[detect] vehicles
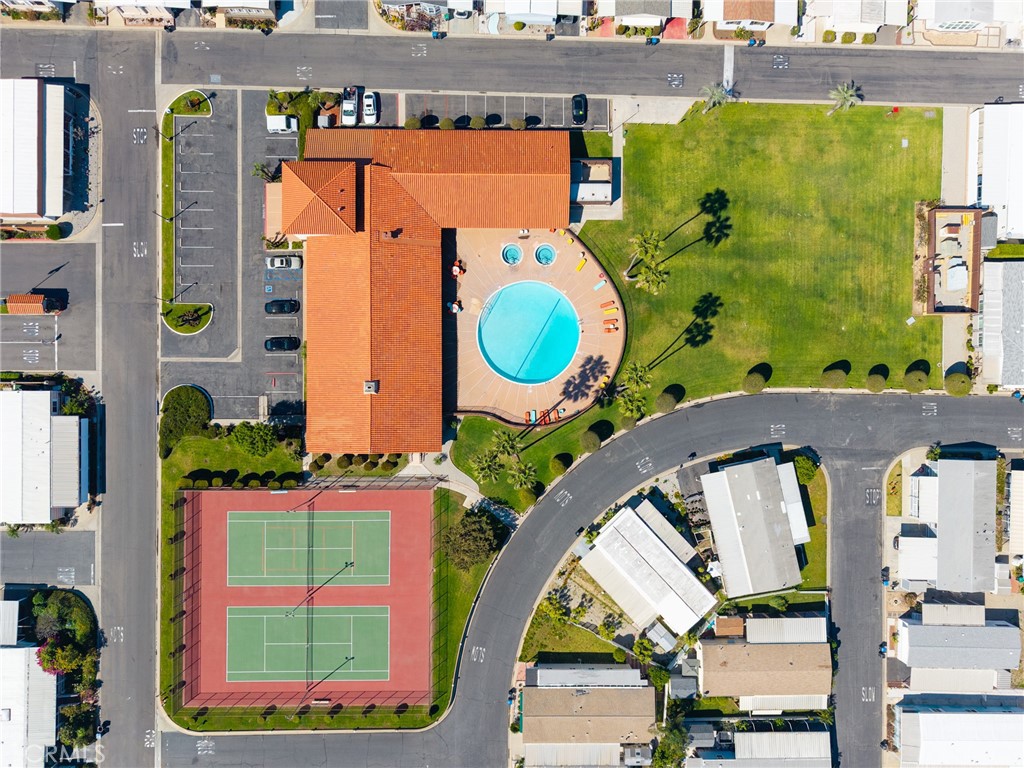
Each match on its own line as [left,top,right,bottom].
[362,90,377,124]
[264,298,298,314]
[561,15,574,28]
[265,254,300,269]
[453,9,468,24]
[262,113,298,131]
[573,92,588,125]
[340,84,357,125]
[264,336,298,351]
[892,537,898,551]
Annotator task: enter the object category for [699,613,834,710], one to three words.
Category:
house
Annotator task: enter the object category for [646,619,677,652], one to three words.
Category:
shed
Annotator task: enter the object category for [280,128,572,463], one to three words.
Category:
building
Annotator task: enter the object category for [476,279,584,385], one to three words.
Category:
swimming pool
